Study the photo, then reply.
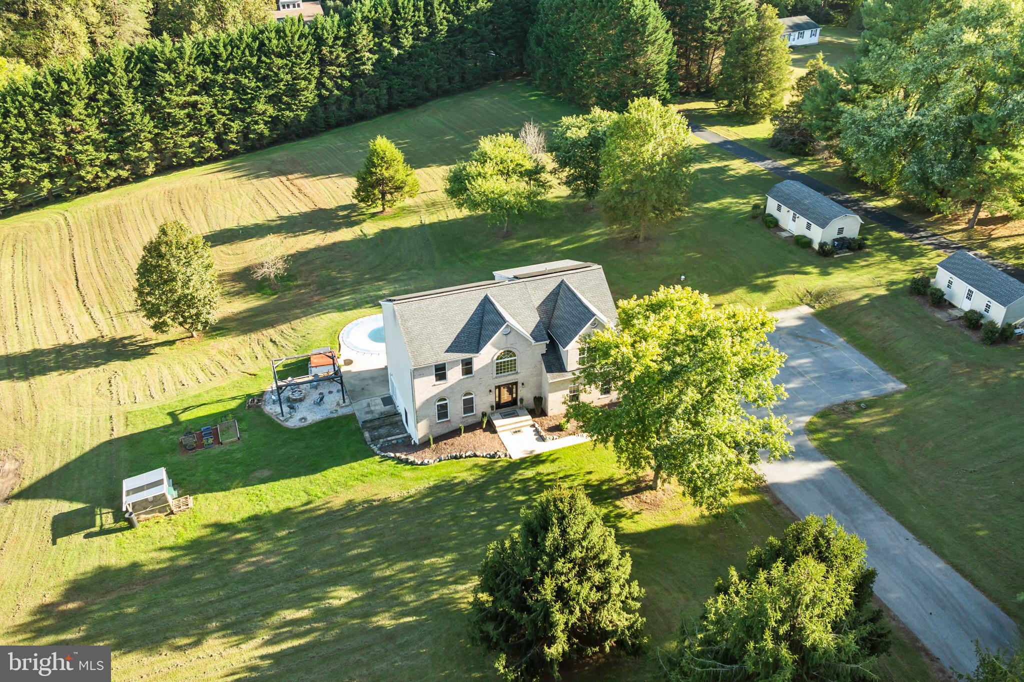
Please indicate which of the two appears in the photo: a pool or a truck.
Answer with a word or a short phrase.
pool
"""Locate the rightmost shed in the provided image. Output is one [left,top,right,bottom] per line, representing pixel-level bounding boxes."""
[936,250,1024,326]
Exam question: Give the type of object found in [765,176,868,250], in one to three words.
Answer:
shed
